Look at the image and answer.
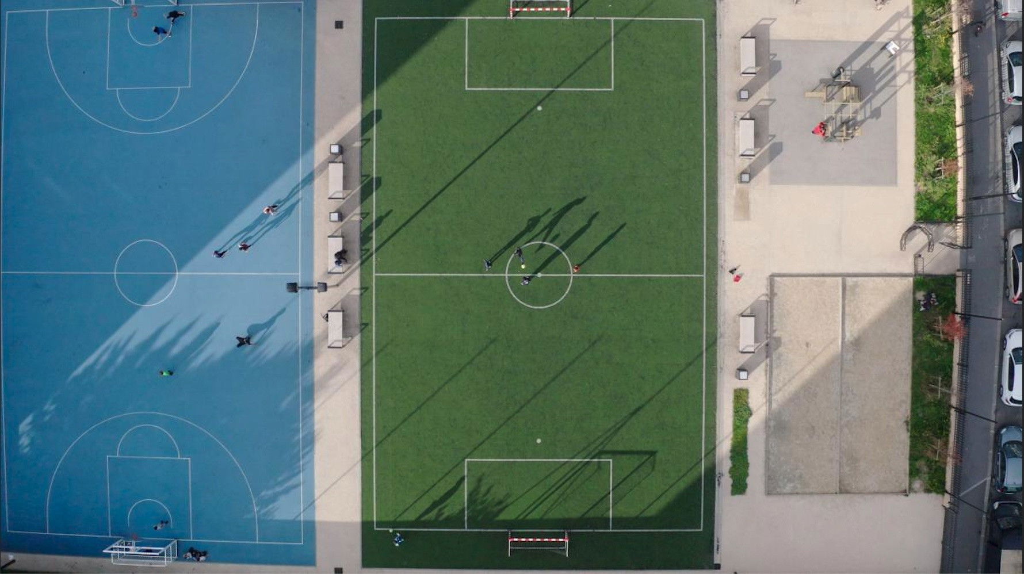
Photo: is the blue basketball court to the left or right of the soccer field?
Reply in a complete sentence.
To the left of the soccer field is where the blue basketball court appears.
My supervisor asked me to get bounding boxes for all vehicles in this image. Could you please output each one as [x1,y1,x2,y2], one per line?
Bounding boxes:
[998,329,1024,409]
[993,502,1024,574]
[998,0,1024,19]
[999,38,1024,107]
[1003,124,1024,202]
[992,425,1024,497]
[1003,228,1024,304]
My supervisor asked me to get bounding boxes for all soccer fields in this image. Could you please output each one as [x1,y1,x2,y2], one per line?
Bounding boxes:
[361,0,717,569]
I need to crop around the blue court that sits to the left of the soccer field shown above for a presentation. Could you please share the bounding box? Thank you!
[0,0,316,566]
